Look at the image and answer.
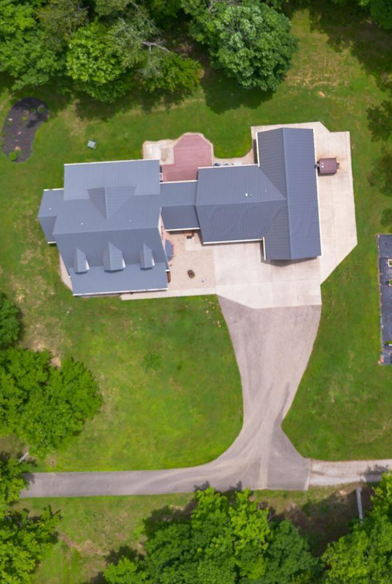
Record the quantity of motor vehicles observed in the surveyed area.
0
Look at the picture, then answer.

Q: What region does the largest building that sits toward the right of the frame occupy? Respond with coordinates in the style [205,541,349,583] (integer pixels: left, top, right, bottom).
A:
[196,127,322,260]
